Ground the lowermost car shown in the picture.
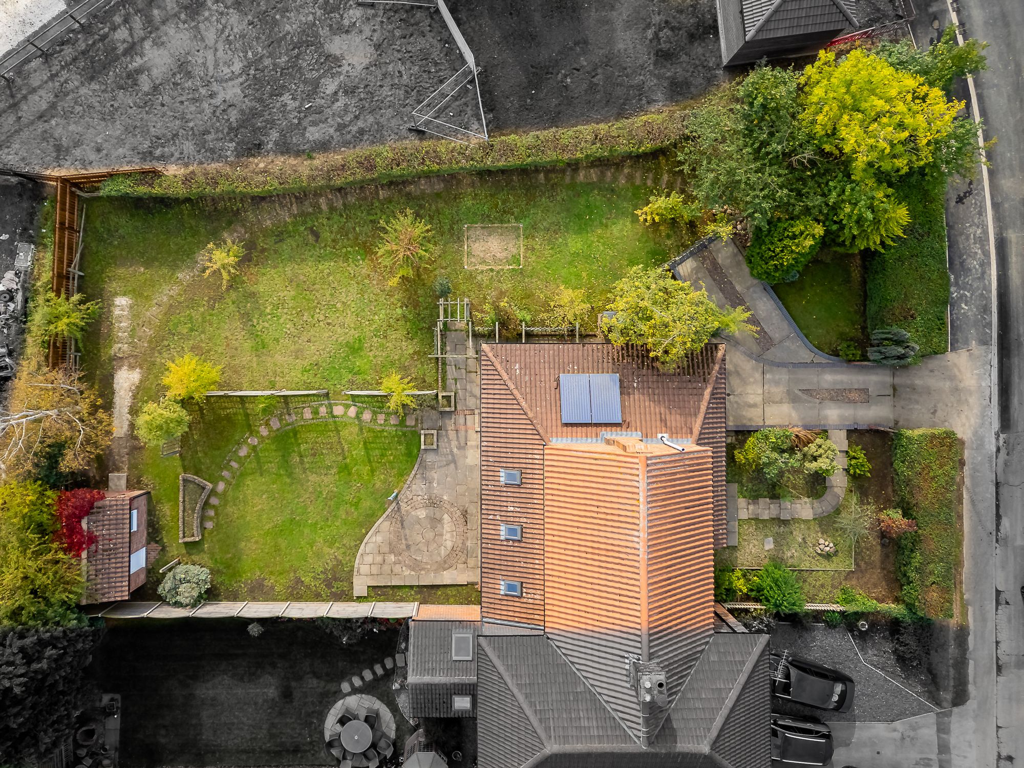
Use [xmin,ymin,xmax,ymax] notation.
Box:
[765,721,836,768]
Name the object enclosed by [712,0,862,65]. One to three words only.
building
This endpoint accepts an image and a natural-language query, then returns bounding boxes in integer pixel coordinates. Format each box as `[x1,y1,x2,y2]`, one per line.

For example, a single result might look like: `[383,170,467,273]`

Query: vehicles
[765,721,836,768]
[766,642,860,709]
